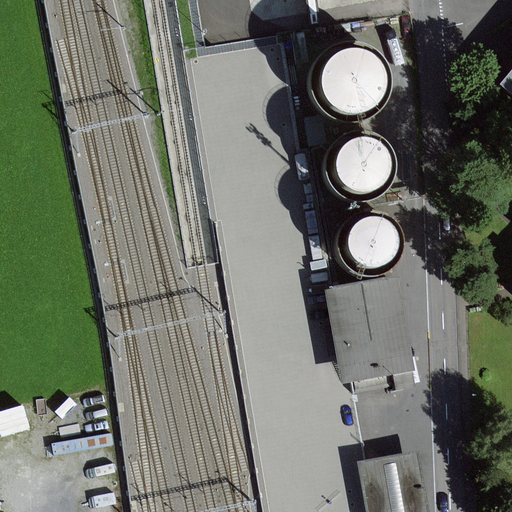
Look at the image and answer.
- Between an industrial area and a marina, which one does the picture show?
industrial area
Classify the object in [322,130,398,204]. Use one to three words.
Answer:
storage tank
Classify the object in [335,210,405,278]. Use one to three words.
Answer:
storage tank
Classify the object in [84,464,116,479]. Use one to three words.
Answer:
camper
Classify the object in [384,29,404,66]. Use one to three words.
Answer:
vehicle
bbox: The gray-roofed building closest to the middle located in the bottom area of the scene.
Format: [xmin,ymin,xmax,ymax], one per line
[324,276,415,391]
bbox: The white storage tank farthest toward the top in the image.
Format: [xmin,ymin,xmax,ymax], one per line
[308,42,393,126]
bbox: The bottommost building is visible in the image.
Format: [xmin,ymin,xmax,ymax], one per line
[358,452,427,512]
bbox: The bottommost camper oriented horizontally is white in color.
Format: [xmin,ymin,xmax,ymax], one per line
[81,492,117,508]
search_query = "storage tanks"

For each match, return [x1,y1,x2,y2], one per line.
[335,210,405,278]
[308,42,393,126]
[322,130,398,204]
